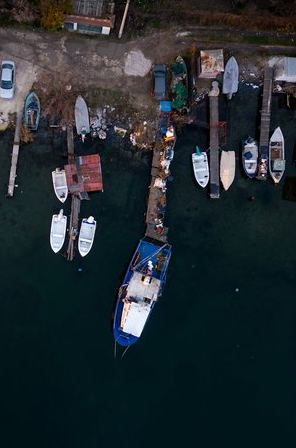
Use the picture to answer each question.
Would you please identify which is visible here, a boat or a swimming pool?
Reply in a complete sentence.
The one in the frame is a boat.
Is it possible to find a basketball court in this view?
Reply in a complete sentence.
No, the picture doesn't show any basketball court.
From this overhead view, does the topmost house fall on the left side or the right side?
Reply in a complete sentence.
The topmost house sits on the left side.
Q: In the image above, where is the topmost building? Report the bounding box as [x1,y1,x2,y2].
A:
[65,0,115,44]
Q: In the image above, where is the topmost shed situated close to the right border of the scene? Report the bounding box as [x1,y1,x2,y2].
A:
[271,57,296,83]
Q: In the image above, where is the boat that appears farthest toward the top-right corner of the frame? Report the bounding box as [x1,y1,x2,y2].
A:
[223,54,240,98]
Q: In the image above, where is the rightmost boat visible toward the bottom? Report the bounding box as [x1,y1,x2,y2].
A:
[111,239,176,350]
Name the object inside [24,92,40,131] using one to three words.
boat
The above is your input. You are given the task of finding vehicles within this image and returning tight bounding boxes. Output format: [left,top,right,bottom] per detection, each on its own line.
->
[0,61,15,100]
[151,66,168,100]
